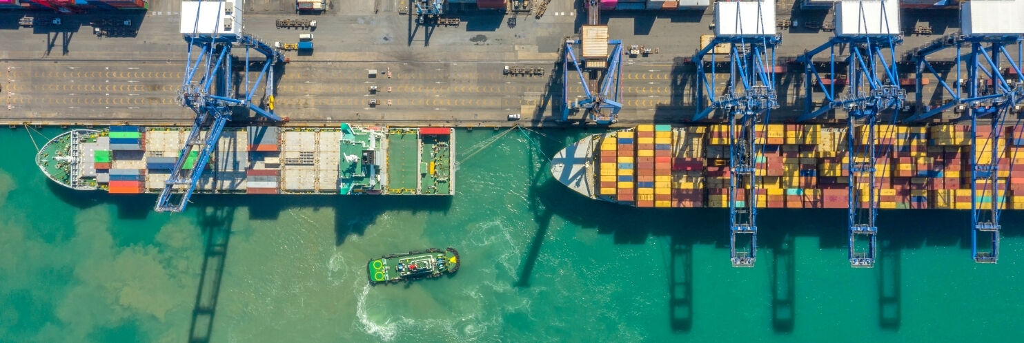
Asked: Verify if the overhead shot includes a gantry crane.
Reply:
Yes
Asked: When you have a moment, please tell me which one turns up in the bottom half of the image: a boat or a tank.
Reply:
boat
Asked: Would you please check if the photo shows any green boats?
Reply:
Yes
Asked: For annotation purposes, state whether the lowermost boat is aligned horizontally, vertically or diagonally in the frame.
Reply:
horizontally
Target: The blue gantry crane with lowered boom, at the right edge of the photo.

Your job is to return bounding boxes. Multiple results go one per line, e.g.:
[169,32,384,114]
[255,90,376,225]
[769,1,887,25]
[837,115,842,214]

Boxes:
[888,0,1024,266]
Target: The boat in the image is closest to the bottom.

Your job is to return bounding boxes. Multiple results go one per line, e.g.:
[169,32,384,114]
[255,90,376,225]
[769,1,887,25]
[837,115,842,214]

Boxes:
[367,249,458,286]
